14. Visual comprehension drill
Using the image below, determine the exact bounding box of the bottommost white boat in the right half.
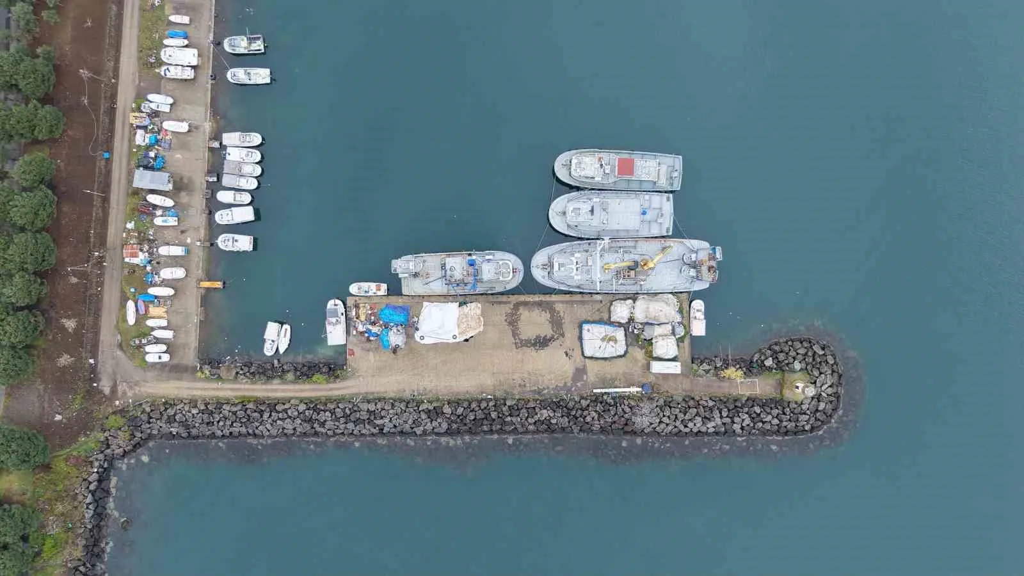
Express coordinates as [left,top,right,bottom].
[691,300,706,336]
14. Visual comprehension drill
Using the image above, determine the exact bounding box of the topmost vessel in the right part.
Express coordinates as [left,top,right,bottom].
[555,149,683,191]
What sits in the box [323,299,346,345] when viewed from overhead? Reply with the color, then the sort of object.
white boat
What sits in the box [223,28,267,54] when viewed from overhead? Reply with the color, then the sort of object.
white boat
